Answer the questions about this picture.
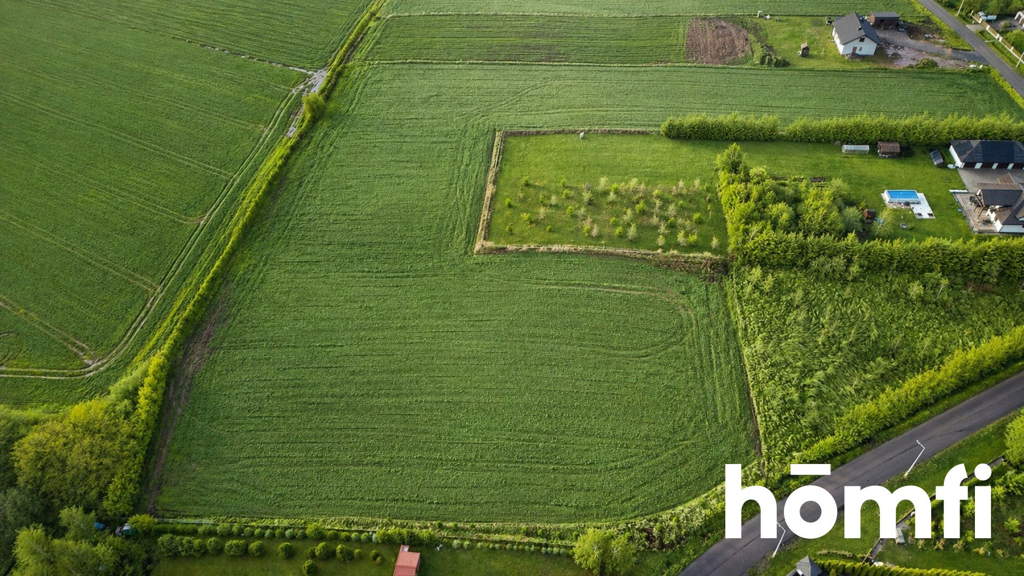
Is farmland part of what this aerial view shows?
Yes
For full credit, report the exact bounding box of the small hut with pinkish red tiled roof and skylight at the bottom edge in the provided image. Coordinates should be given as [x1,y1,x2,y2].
[391,544,423,576]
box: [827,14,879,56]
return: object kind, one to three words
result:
house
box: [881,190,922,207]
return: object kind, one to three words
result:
swimming pool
